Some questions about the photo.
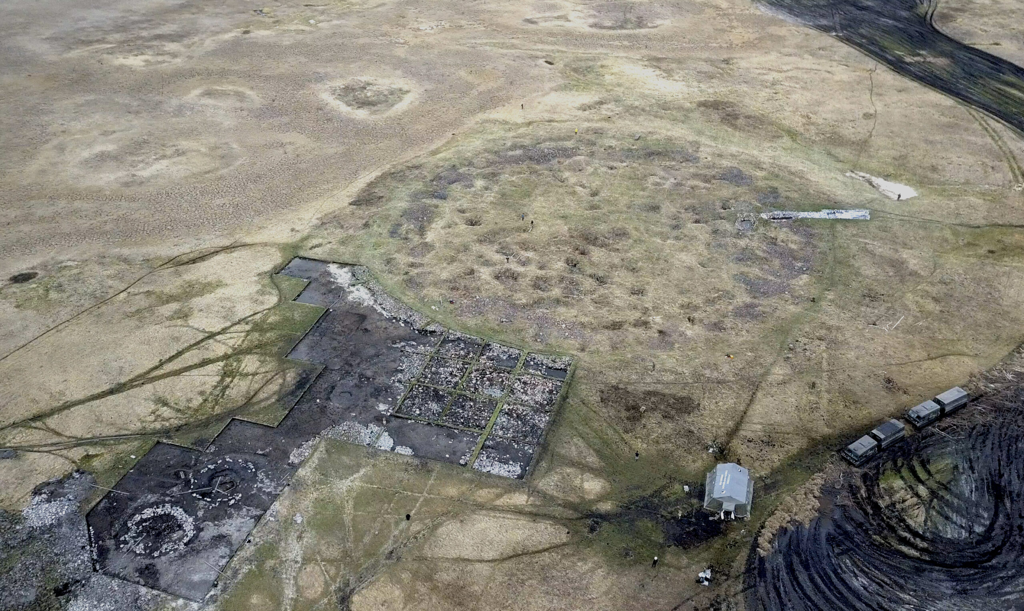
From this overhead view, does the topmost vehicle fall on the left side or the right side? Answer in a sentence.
It is on the right.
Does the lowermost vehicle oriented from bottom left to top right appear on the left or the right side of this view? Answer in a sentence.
The lowermost vehicle oriented from bottom left to top right sits on the right side.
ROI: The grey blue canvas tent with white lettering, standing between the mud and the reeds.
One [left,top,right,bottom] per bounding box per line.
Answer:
[700,463,757,525]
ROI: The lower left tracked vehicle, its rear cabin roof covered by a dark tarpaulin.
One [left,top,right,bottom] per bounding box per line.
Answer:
[838,419,905,472]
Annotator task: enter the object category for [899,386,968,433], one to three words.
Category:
vehicle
